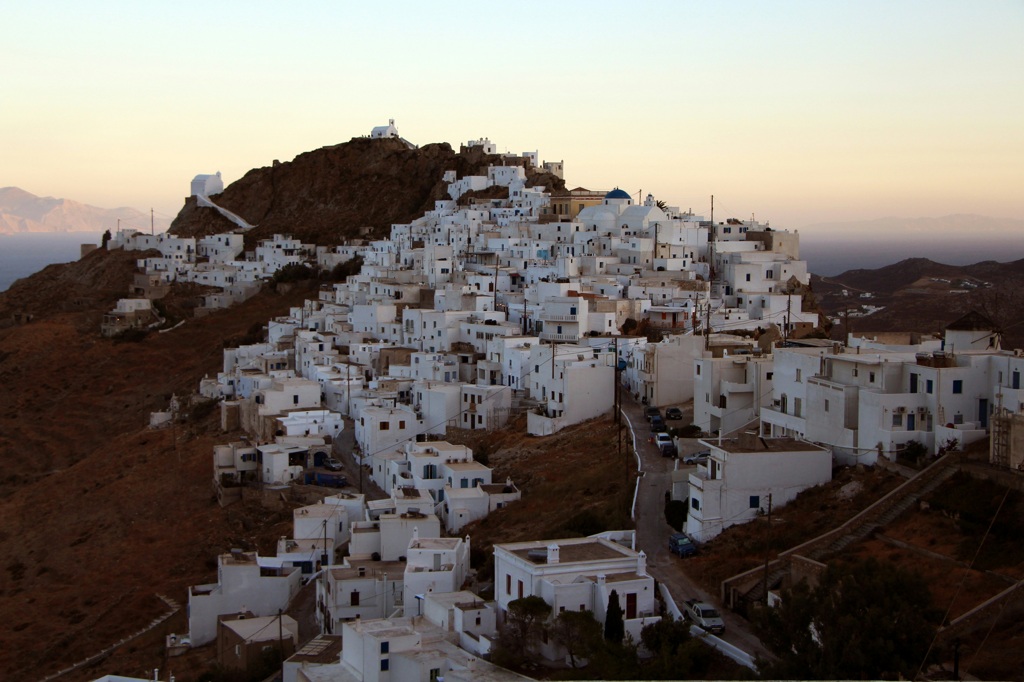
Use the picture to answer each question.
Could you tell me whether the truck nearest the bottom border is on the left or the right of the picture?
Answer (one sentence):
The truck nearest the bottom border sits on the right side.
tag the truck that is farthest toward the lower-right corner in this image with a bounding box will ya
[672,595,731,636]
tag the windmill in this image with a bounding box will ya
[943,302,1014,349]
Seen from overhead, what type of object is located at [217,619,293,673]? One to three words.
house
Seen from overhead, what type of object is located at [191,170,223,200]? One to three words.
building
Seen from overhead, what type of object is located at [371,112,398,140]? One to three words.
building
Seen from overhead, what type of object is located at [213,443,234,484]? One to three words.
house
